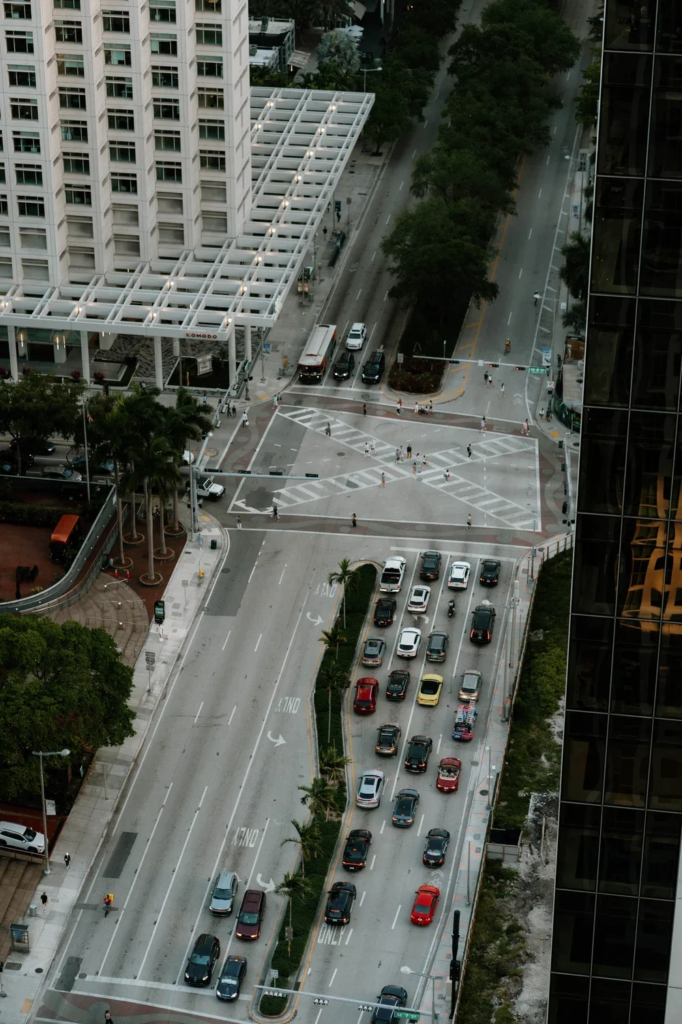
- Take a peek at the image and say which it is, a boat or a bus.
bus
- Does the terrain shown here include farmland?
No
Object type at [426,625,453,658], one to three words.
car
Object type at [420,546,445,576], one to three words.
car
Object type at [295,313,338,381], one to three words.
bus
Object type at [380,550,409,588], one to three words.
truck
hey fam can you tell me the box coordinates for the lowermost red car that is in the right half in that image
[410,879,441,922]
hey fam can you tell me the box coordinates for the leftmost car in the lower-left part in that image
[0,819,47,852]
